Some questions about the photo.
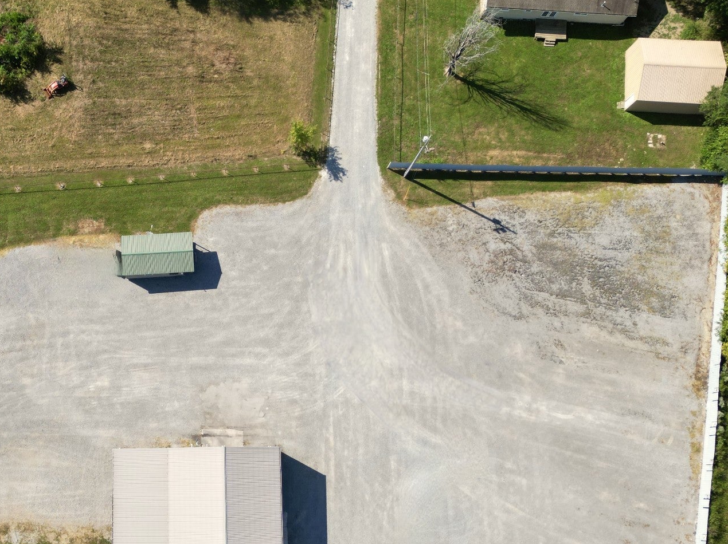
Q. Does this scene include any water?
No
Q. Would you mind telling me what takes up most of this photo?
paved ground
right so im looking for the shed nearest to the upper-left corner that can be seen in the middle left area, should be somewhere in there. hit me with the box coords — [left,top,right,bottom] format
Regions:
[120,231,194,277]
